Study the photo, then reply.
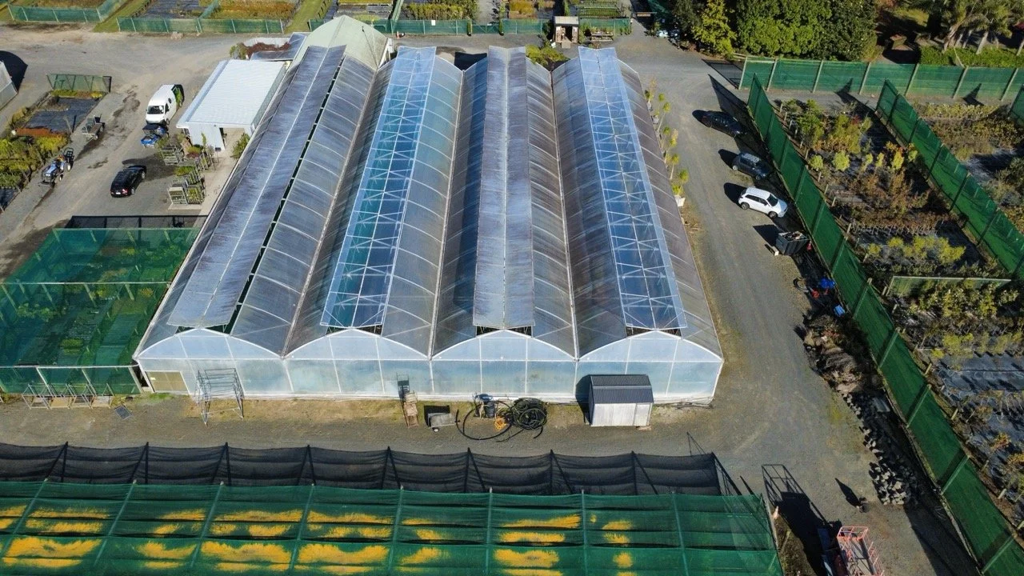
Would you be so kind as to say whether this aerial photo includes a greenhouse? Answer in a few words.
Yes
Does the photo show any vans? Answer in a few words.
Yes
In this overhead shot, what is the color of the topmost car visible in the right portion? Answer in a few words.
black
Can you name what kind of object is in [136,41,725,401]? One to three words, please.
greenhouse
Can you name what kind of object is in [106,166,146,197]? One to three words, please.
car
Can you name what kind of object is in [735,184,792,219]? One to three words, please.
car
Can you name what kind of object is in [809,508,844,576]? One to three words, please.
trailer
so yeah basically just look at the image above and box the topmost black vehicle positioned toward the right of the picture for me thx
[704,110,752,138]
